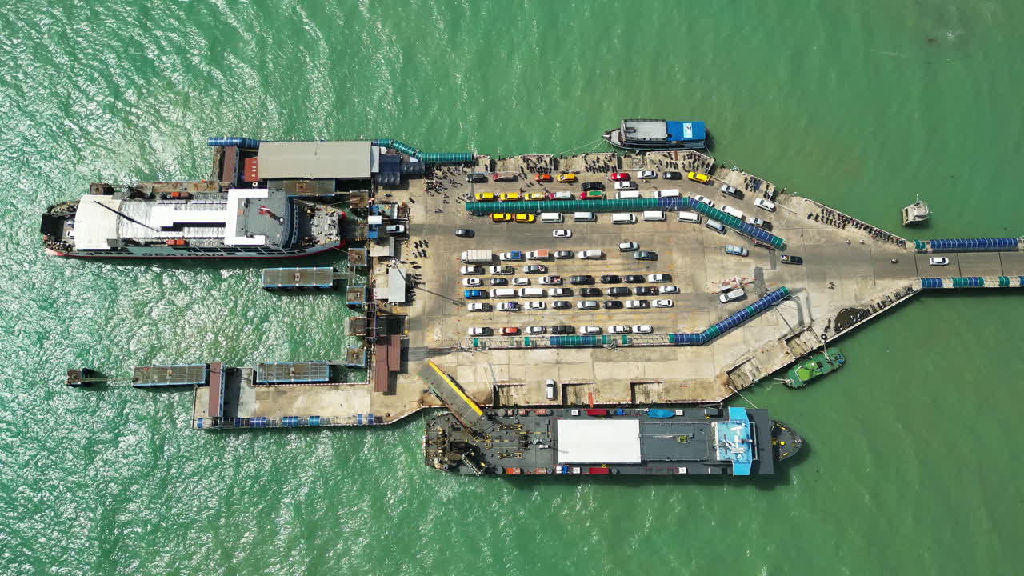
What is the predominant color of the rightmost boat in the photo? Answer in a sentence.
The color of the rightmost boat is green.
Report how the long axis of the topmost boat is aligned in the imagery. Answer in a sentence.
Seen from above, the topmost boat lies horizontally.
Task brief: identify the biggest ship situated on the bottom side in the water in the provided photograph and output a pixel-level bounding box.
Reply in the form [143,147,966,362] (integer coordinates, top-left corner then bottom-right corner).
[423,404,804,476]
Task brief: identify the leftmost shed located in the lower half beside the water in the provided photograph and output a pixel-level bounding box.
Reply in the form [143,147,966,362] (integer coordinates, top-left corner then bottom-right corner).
[209,362,230,417]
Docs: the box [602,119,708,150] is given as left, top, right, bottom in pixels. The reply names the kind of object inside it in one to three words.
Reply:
boat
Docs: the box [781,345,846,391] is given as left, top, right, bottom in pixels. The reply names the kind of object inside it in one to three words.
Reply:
boat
